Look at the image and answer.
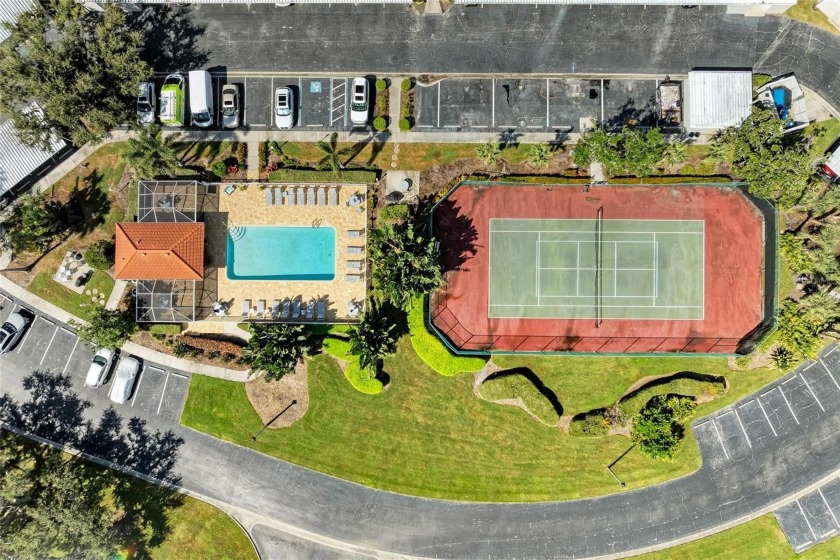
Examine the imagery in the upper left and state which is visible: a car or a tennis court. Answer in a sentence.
There is a car in the upper left.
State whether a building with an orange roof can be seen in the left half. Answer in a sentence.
Yes, a building with an orange roof is visible in the left half.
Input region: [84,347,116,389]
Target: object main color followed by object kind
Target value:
white car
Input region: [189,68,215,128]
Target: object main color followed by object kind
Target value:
white vehicle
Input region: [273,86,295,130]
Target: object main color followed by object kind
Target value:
white car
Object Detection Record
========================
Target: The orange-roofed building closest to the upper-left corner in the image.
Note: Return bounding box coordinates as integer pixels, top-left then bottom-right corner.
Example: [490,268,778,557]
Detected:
[113,221,208,280]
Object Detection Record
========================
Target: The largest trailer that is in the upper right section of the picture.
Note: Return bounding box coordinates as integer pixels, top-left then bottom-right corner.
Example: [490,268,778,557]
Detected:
[659,75,682,125]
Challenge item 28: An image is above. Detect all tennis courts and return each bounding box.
[433,184,765,352]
